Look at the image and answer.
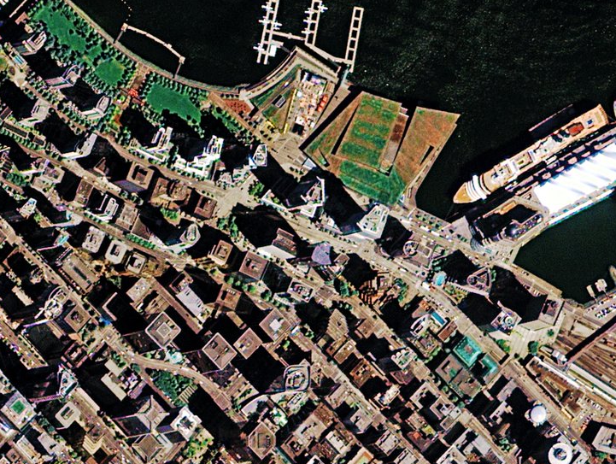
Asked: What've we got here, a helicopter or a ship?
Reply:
ship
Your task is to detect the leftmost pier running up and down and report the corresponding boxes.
[256,0,278,63]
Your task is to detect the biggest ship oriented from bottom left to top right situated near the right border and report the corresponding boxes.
[451,104,609,203]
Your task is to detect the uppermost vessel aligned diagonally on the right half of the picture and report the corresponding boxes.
[528,104,575,137]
